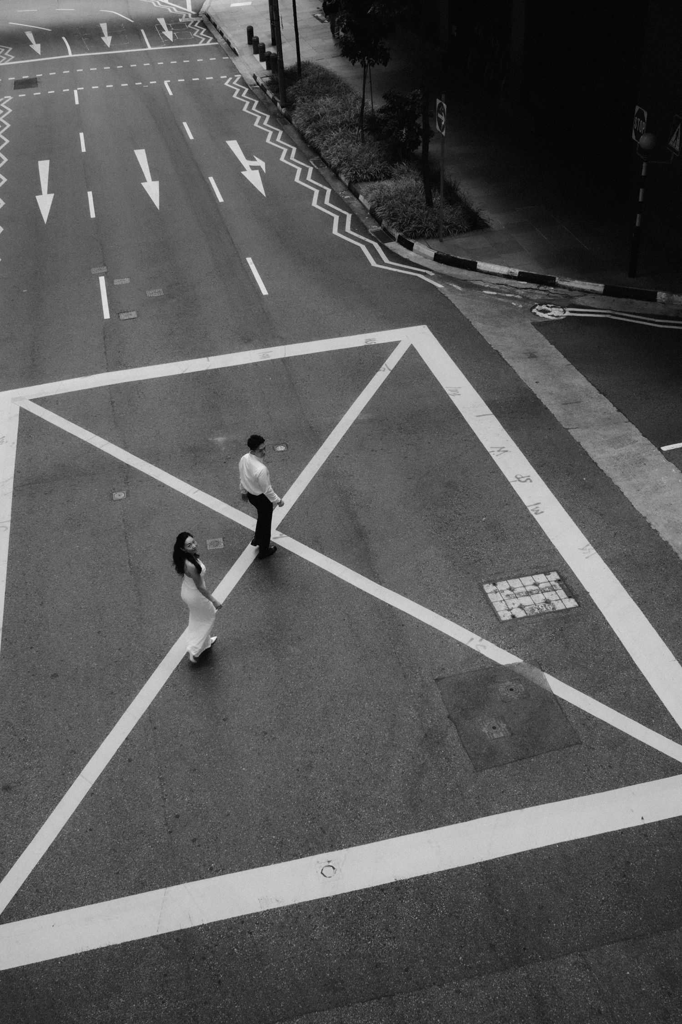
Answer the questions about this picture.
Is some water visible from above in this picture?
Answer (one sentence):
No, the scene doesn't show any water.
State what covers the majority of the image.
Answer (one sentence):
What you mostly see from above here is paved ground.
